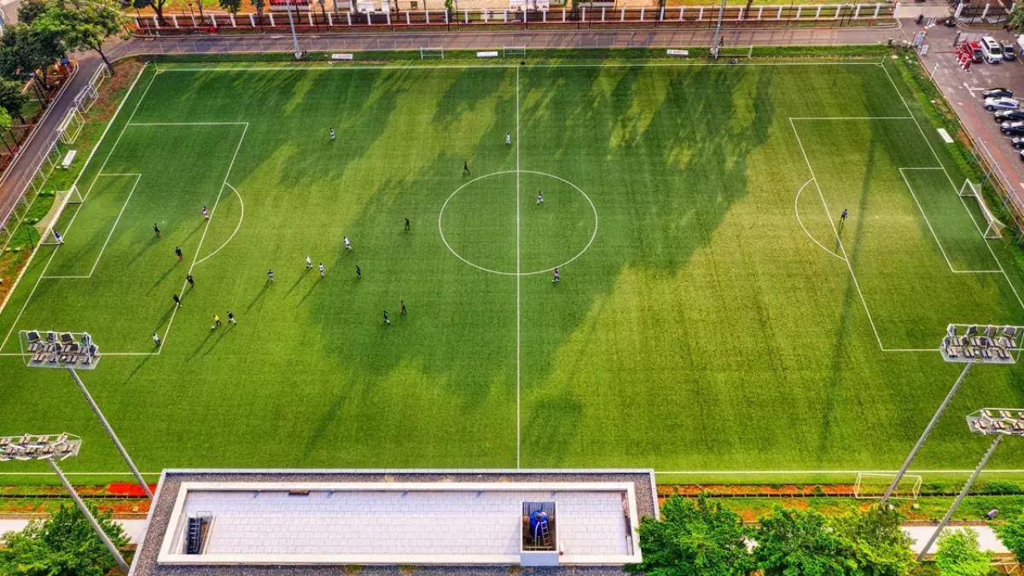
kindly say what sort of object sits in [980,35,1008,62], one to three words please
vehicle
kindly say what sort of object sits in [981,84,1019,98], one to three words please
car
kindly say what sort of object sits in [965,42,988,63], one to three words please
car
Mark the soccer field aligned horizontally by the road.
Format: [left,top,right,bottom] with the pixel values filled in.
[0,57,1024,486]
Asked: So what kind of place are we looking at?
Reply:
sports ground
